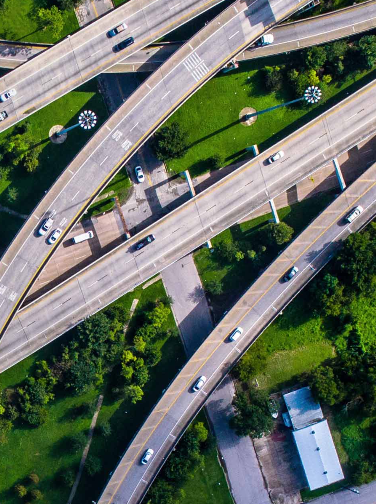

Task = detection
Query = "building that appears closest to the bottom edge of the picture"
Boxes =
[288,420,344,490]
